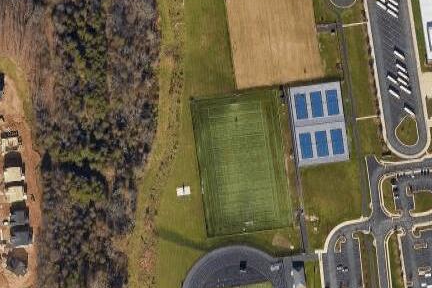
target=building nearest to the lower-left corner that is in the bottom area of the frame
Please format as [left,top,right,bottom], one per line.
[6,249,29,273]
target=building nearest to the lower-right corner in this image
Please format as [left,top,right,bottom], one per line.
[291,264,307,288]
